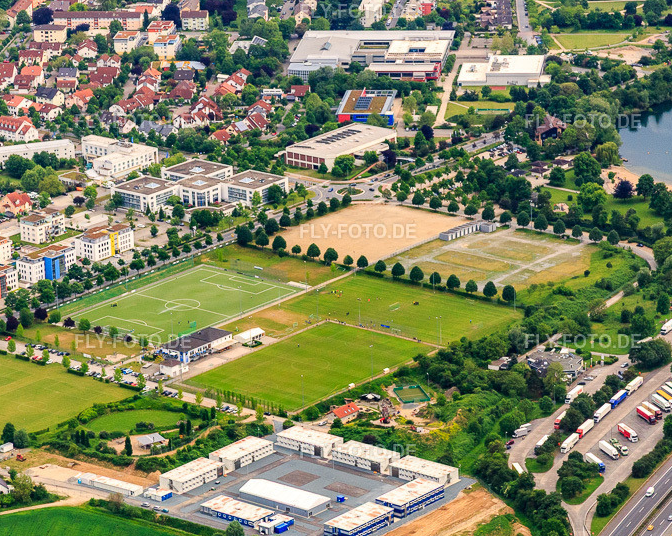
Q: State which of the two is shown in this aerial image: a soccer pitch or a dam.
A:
soccer pitch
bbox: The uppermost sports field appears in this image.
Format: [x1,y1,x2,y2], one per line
[281,203,467,262]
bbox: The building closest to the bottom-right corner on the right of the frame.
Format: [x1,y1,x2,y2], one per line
[529,349,583,378]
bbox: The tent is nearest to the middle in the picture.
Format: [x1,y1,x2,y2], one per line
[235,328,266,344]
